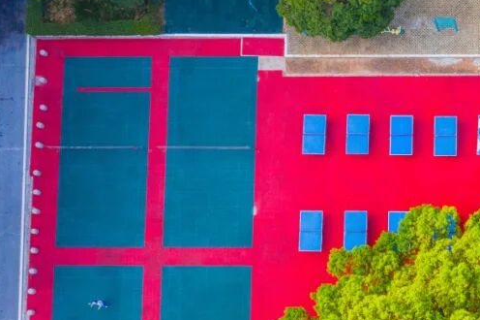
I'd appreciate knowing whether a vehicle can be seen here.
No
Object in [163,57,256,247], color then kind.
blue sports court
